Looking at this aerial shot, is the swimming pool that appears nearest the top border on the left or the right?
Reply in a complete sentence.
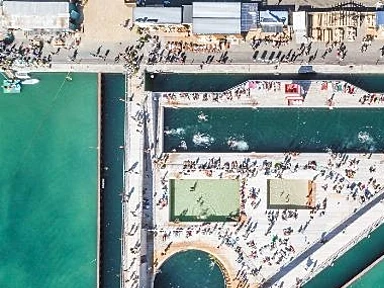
The swimming pool that appears nearest the top border appears in the right half of the scene.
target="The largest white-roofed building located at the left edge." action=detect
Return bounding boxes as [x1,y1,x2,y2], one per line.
[1,1,76,32]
